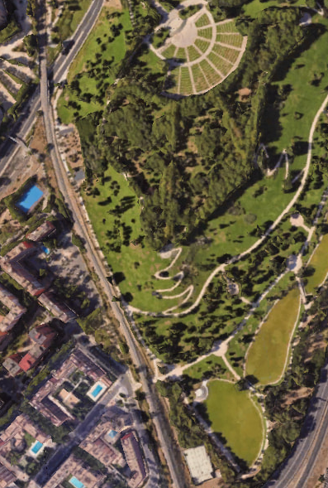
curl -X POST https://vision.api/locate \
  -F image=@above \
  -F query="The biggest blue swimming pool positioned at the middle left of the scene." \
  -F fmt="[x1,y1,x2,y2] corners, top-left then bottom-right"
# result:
[16,184,42,212]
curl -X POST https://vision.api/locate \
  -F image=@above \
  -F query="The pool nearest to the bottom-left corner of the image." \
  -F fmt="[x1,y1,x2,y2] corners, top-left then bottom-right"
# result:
[27,441,46,457]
